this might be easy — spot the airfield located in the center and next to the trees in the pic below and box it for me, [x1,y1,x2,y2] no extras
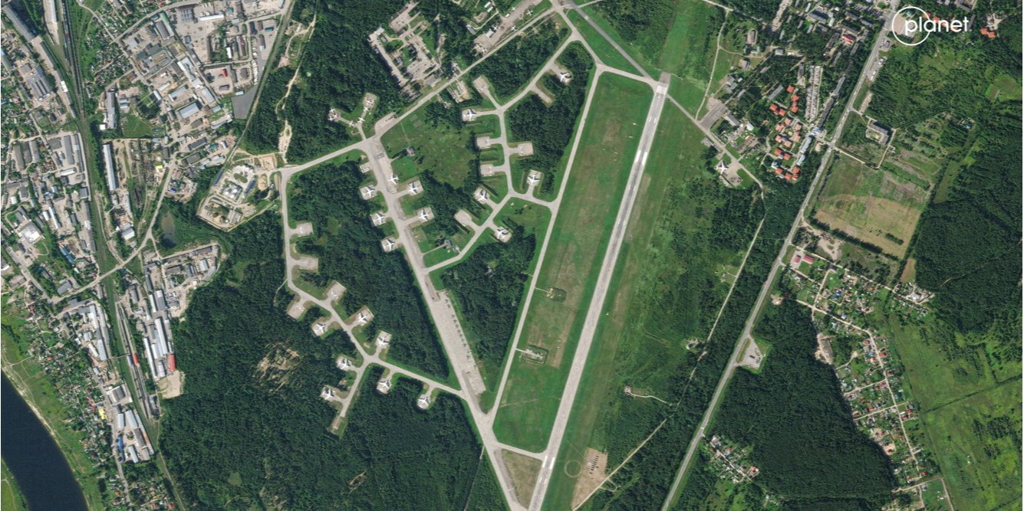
[271,0,744,511]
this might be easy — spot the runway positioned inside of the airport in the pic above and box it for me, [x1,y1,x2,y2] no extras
[528,82,670,511]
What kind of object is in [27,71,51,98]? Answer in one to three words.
building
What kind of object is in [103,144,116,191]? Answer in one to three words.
building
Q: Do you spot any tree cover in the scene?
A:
Yes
